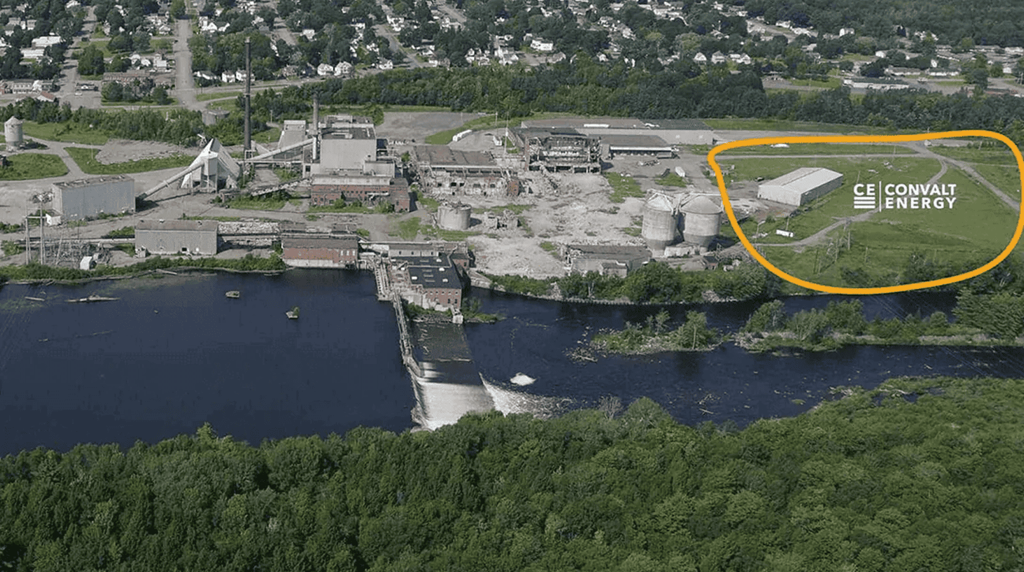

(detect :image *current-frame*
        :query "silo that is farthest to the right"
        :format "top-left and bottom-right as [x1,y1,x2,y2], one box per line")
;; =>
[682,197,724,251]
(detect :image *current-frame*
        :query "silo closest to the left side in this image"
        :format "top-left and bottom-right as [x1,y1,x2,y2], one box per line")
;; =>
[1,114,24,148]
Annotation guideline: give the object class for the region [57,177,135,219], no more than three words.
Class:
building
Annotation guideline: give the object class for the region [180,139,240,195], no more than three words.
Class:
house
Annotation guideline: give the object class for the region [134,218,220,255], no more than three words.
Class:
building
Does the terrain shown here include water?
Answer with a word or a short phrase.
Yes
